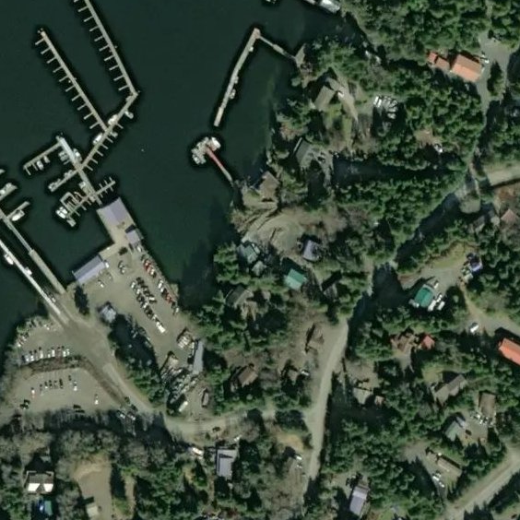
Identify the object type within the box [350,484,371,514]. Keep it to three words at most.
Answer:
house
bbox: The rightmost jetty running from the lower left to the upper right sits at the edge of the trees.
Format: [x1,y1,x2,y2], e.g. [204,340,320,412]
[214,27,295,125]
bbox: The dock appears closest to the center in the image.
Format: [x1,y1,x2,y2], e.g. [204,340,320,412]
[191,137,235,187]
